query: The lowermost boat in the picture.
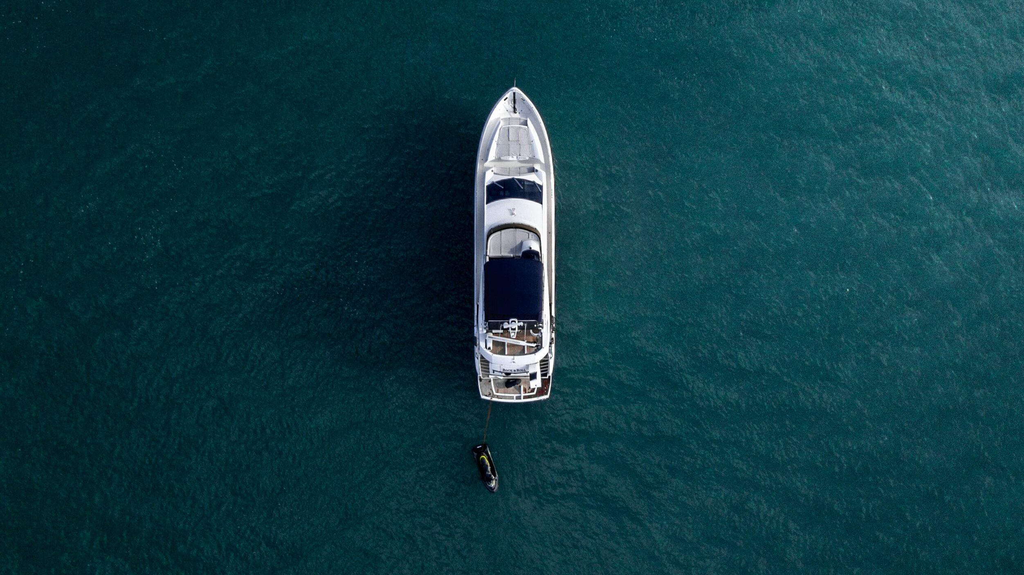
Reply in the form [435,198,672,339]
[473,445,498,493]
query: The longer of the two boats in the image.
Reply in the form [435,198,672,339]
[474,82,556,402]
